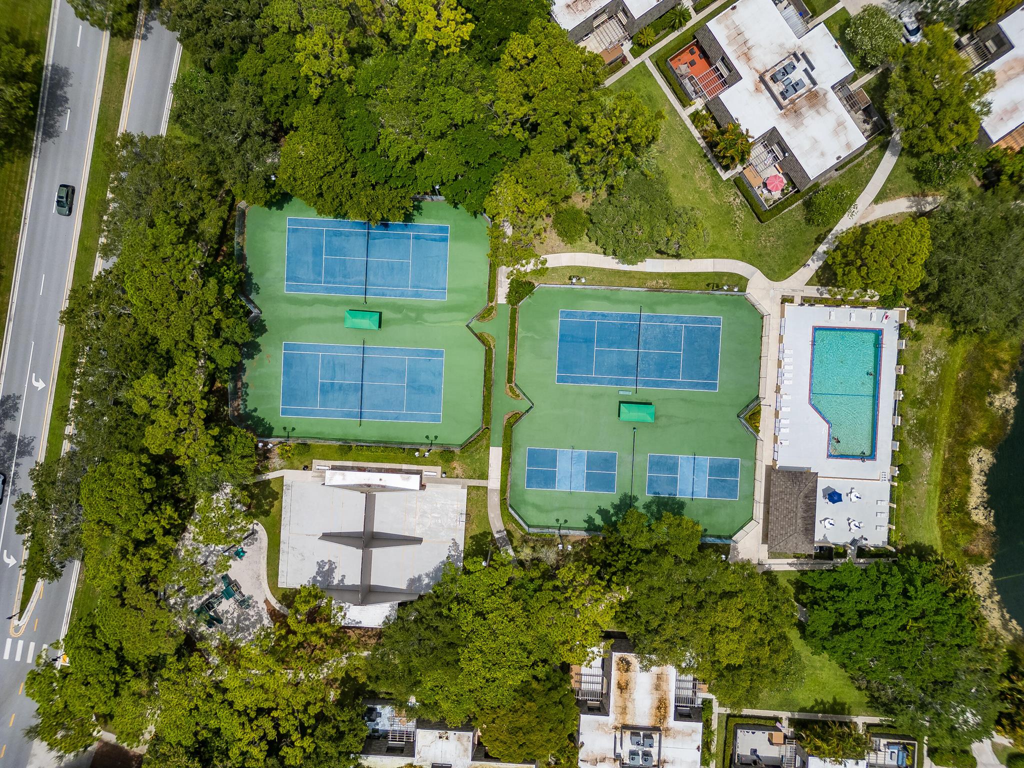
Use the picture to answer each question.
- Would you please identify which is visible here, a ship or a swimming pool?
swimming pool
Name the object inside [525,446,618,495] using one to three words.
sports court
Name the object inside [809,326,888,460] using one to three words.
swimming pool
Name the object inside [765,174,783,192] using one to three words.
umbrella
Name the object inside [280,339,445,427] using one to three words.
tennis court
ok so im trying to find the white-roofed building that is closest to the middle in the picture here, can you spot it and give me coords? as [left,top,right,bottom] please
[326,469,422,488]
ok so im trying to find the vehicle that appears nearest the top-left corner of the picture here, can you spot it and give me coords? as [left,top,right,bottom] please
[55,183,75,217]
